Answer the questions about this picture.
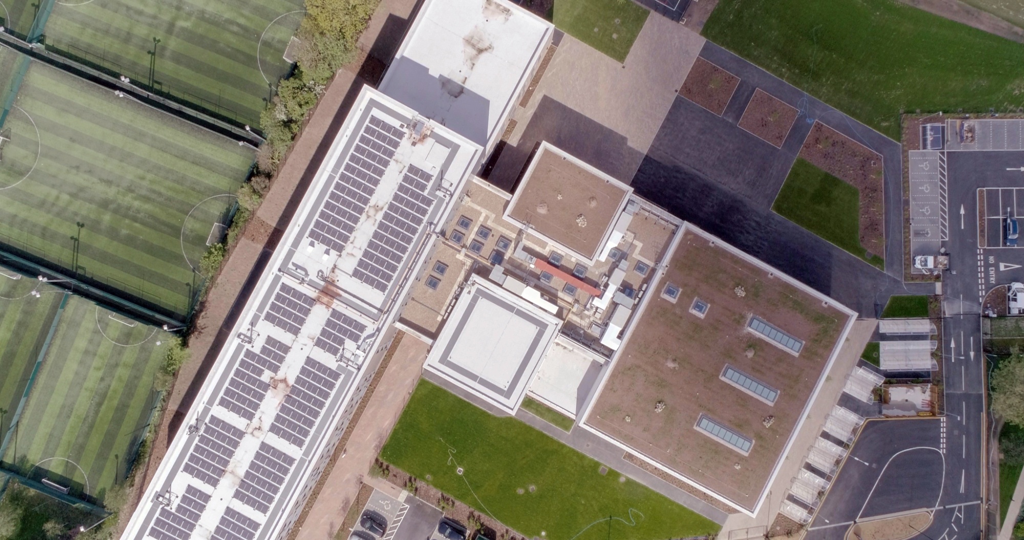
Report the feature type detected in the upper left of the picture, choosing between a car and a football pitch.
football pitch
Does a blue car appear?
Yes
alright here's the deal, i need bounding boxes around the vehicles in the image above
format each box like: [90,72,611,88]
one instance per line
[1003,218,1019,246]
[350,532,370,540]
[910,254,950,274]
[1007,278,1024,312]
[438,524,466,540]
[360,515,388,536]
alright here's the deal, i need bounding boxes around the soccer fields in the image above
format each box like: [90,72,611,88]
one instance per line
[0,44,31,120]
[0,58,253,322]
[45,0,306,135]
[2,300,167,512]
[0,271,63,445]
